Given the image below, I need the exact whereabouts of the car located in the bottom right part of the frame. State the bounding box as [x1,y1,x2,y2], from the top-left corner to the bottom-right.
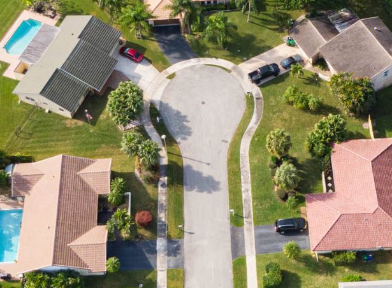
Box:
[274,216,307,234]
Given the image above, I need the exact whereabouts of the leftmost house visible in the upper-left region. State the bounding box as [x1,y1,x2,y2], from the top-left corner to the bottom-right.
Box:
[12,14,134,121]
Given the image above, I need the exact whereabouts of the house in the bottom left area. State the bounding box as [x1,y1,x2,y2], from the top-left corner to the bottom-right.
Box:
[11,155,114,281]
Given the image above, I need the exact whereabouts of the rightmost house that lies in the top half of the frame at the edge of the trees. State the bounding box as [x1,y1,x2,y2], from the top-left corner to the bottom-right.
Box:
[289,10,392,92]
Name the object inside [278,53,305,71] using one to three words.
car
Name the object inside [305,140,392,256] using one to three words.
house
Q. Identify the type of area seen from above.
residential area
